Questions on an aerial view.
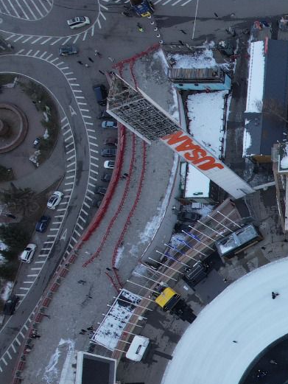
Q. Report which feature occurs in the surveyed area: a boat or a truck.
truck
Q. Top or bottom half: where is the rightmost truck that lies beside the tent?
bottom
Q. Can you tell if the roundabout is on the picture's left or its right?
left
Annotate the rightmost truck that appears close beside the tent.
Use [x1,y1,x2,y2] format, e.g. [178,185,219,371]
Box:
[150,285,185,317]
